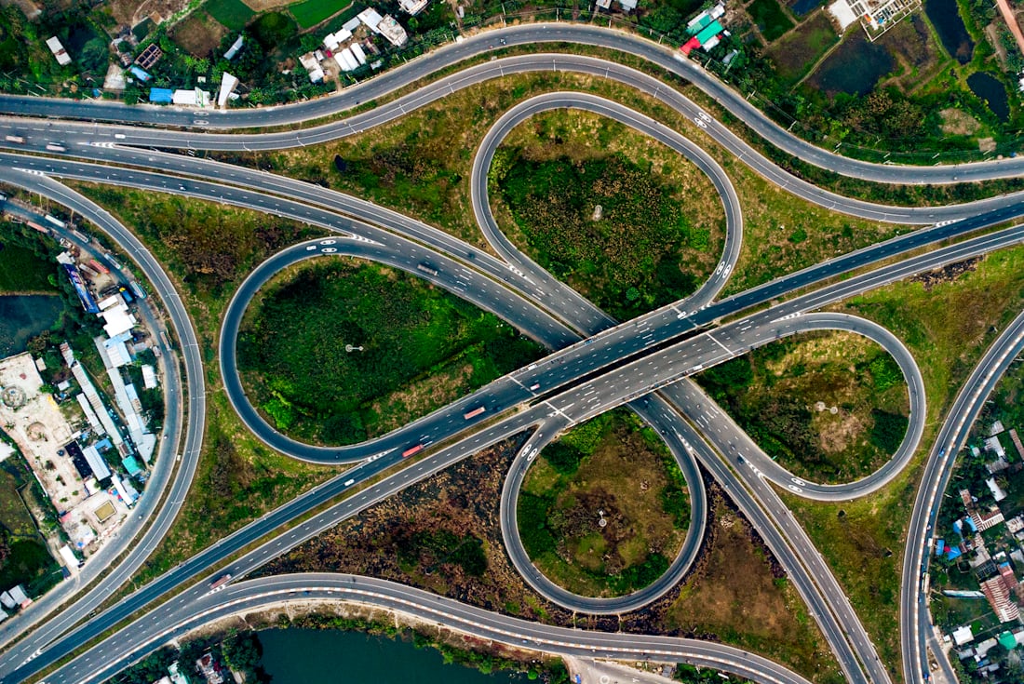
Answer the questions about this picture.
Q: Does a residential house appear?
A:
Yes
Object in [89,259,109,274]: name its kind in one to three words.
vehicle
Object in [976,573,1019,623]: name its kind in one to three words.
building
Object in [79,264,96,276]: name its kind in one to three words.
vehicle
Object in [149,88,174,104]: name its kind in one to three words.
shed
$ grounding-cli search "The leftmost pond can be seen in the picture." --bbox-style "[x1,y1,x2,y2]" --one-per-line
[0,293,63,360]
